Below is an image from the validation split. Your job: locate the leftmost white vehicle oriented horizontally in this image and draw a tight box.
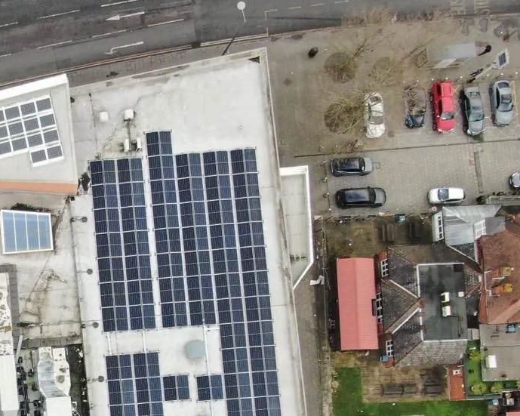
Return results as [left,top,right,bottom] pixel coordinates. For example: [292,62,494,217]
[424,186,466,205]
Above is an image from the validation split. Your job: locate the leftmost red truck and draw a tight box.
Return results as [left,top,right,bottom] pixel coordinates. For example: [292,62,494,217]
[430,78,458,133]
